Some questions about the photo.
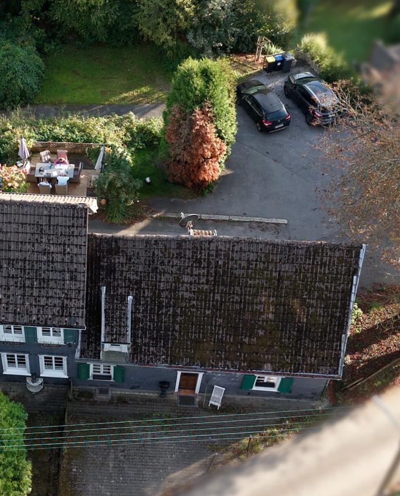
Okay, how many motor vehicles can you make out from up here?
2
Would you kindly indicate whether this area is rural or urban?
urban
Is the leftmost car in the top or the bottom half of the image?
top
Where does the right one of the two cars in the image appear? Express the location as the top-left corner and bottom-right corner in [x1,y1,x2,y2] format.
[286,71,337,117]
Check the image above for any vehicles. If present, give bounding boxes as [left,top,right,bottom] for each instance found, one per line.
[240,80,289,127]
[286,71,337,117]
